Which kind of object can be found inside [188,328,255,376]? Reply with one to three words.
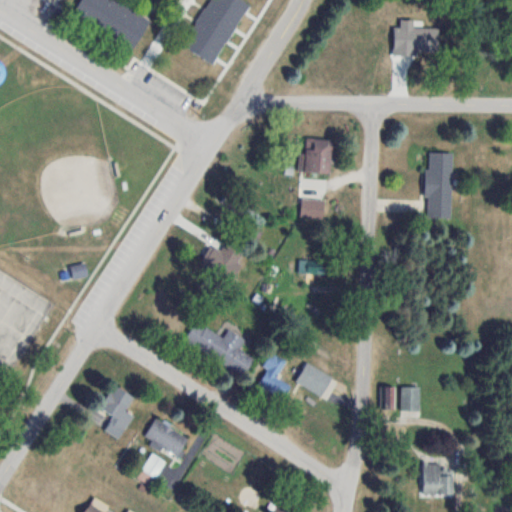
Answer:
house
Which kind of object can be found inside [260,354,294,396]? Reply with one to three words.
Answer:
house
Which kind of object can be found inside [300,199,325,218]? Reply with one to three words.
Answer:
building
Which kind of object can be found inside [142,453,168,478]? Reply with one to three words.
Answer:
building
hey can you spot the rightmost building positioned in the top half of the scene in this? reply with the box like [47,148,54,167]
[424,152,454,219]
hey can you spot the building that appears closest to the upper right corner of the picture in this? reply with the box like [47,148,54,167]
[393,20,441,55]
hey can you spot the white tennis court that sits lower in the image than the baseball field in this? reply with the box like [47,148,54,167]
[0,270,49,363]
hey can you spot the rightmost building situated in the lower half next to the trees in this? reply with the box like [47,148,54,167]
[420,464,456,498]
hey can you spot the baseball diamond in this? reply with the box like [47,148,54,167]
[0,86,121,247]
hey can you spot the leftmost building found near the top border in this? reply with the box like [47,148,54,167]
[76,0,148,48]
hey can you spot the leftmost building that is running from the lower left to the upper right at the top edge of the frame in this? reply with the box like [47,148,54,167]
[188,0,250,63]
